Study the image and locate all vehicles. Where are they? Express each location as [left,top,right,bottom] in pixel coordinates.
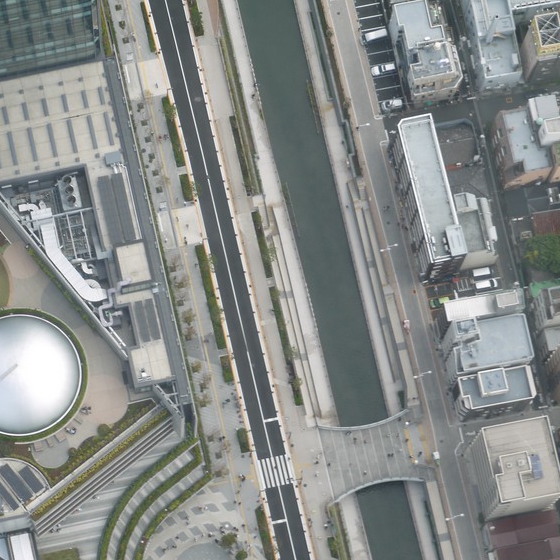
[426,295,451,309]
[470,265,493,278]
[371,62,396,75]
[380,96,404,110]
[362,27,388,42]
[474,278,498,291]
